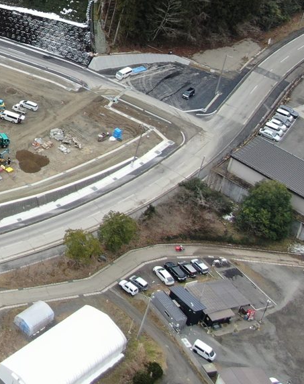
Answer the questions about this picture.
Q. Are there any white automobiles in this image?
Yes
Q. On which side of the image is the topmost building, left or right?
right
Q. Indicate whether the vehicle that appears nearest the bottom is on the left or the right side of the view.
right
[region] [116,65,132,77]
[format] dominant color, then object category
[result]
white vehicle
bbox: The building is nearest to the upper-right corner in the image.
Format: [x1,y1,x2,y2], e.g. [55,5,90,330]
[229,136,304,214]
